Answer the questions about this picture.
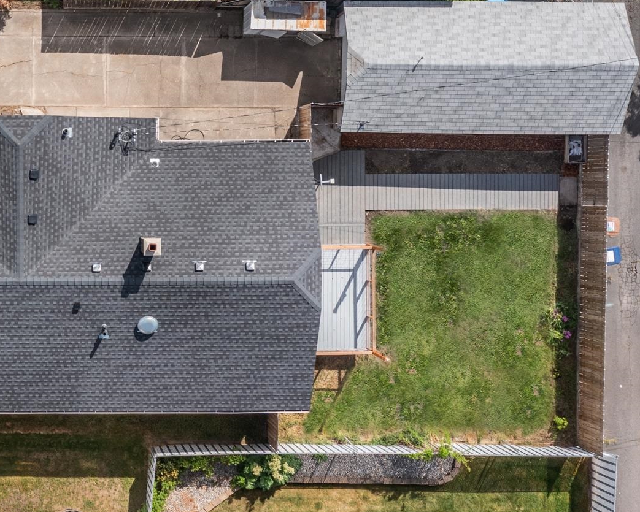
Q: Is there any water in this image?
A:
No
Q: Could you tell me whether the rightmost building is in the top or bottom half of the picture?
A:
top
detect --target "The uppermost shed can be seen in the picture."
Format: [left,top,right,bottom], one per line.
[242,0,327,50]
